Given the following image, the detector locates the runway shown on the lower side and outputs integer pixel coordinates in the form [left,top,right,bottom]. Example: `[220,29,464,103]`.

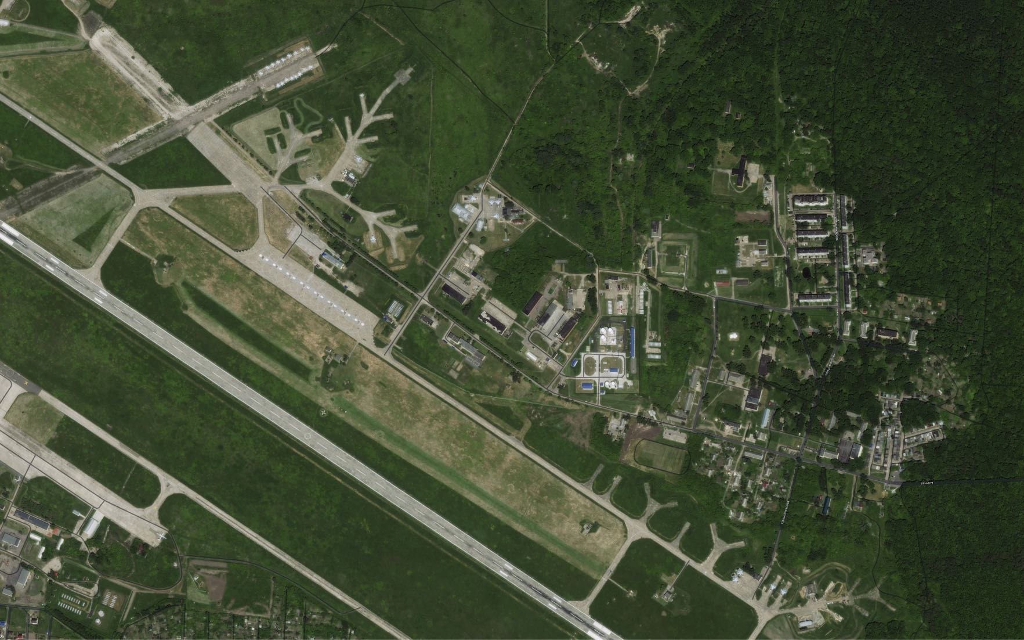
[0,220,623,640]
